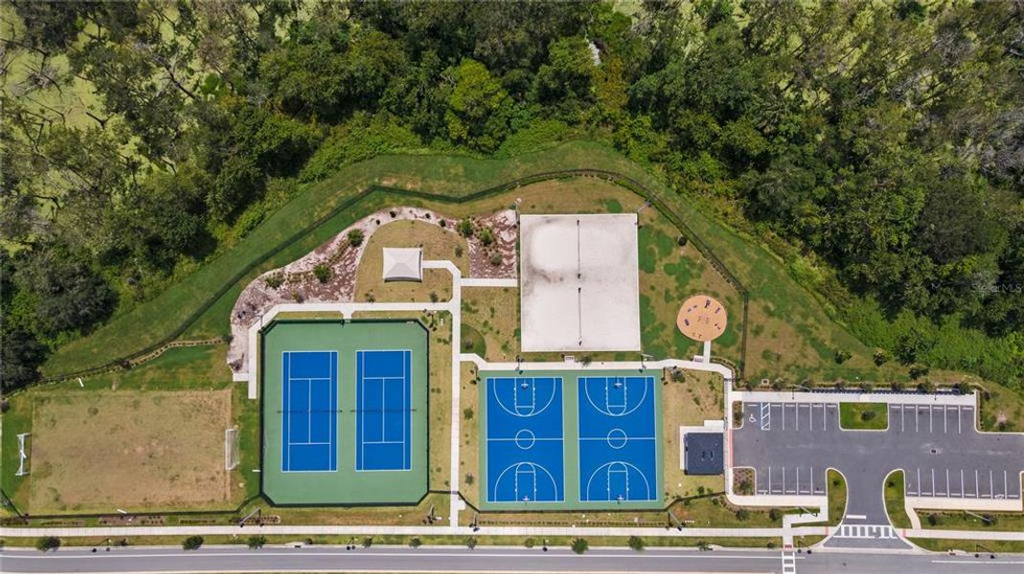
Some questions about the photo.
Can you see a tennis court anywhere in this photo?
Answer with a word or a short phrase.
Yes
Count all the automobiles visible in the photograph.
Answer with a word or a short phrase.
zero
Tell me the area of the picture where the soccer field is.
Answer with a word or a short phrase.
bottom left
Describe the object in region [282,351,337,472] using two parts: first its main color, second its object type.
blue tennis court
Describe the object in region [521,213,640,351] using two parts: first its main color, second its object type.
white sports court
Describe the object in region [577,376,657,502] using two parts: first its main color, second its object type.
blue basketball court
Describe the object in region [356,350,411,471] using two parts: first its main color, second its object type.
blue tennis court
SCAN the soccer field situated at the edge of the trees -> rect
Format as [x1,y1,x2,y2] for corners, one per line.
[30,388,231,512]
